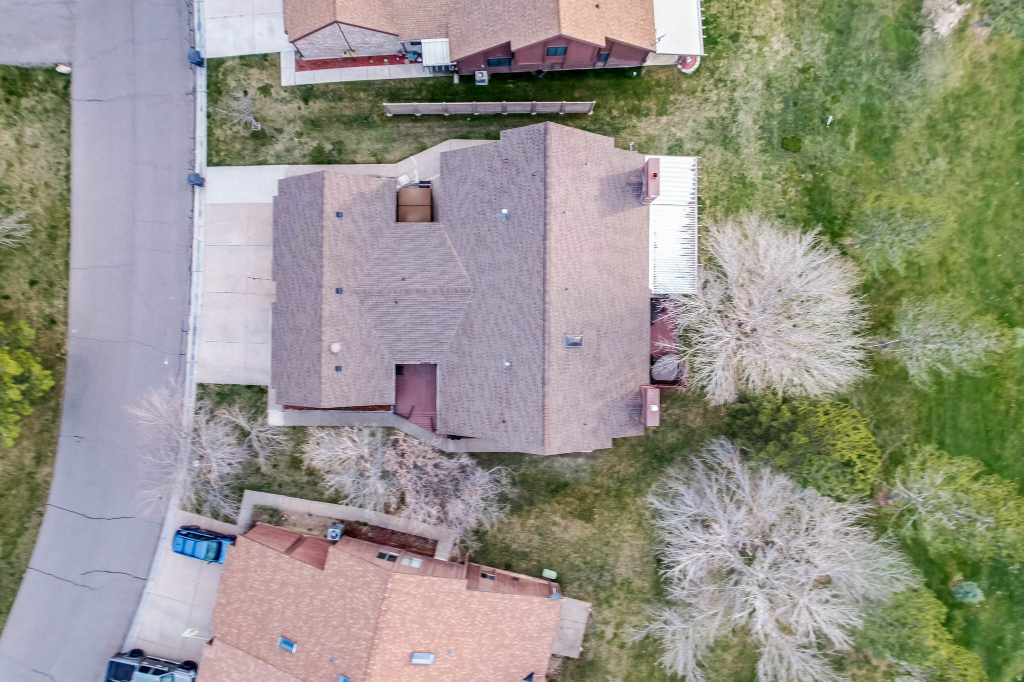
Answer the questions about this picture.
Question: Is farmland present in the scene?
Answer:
No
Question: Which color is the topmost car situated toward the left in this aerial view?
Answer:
blue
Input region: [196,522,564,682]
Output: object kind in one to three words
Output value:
house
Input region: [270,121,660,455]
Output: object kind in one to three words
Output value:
house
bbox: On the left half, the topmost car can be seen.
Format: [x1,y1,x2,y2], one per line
[168,527,236,570]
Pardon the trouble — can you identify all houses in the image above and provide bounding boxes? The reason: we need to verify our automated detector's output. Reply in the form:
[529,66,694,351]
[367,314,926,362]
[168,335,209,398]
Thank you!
[283,0,656,75]
[270,121,660,455]
[196,522,564,682]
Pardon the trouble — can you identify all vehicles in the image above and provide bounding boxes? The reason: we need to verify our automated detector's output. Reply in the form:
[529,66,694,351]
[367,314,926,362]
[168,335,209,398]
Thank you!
[105,651,197,682]
[168,527,236,570]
